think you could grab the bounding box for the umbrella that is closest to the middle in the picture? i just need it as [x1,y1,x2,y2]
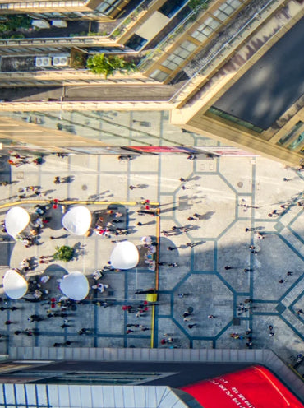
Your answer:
[108,239,140,271]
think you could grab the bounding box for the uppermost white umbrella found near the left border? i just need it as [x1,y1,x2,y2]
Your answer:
[3,206,36,238]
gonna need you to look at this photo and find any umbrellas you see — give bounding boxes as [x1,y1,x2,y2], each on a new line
[1,267,34,299]
[108,239,140,271]
[60,272,92,303]
[61,206,94,236]
[3,206,36,238]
